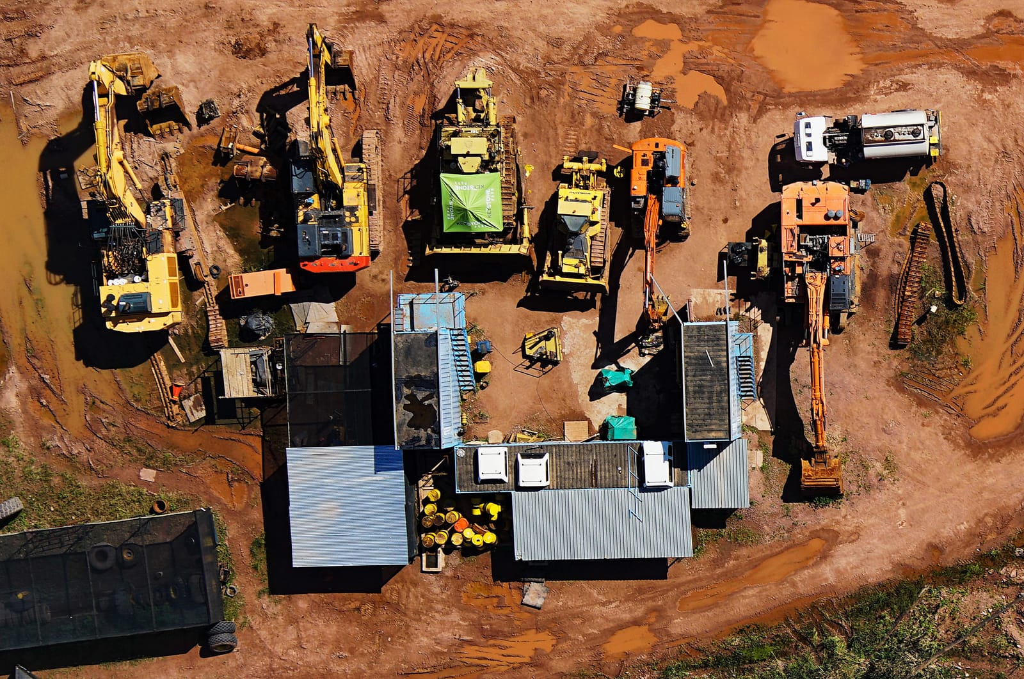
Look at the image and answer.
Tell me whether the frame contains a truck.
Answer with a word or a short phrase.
Yes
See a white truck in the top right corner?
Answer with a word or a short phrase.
Yes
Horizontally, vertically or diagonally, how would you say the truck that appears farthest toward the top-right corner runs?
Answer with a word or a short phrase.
horizontally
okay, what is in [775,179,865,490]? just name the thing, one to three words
work vehicle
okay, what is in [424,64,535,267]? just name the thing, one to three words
work vehicle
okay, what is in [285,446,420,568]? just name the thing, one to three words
shed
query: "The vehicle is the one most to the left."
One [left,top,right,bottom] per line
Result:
[85,50,218,333]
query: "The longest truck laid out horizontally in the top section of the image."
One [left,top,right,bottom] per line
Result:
[775,106,943,165]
